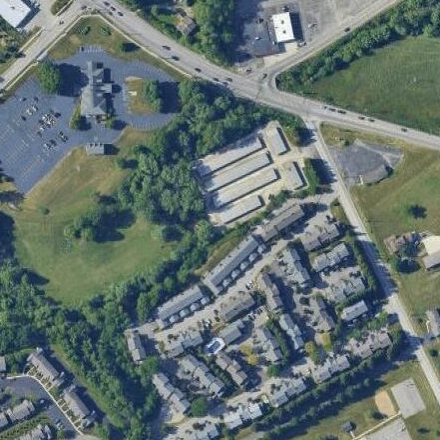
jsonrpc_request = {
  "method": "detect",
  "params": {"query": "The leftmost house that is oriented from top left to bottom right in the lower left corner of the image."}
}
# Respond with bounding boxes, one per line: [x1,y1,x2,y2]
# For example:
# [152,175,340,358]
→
[27,354,60,382]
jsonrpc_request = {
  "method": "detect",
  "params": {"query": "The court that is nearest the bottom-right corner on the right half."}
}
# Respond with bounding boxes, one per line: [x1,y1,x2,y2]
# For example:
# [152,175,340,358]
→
[391,379,426,418]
